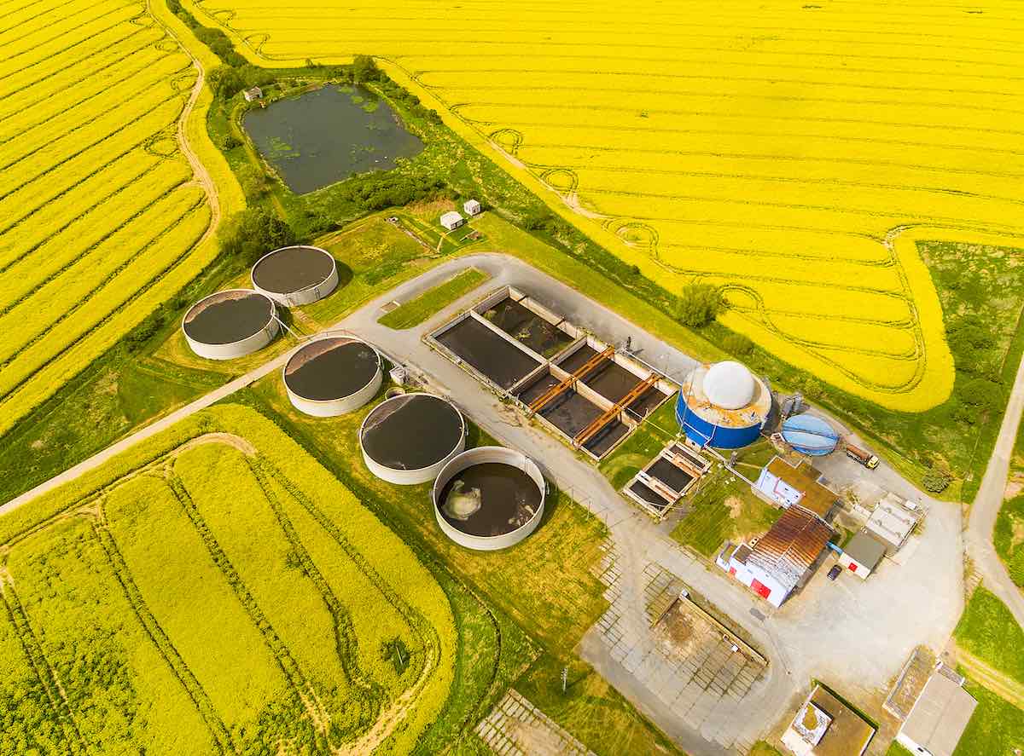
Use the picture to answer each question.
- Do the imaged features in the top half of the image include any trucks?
No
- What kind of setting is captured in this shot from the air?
industrial area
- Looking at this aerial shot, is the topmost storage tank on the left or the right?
left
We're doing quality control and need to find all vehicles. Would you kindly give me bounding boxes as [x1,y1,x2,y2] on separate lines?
[845,445,881,473]
[827,566,843,581]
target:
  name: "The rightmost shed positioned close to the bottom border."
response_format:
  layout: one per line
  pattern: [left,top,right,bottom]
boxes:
[892,659,979,756]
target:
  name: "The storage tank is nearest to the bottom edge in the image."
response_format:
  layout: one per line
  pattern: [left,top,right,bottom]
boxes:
[433,446,549,553]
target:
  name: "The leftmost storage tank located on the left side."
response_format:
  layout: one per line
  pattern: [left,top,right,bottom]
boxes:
[183,289,280,360]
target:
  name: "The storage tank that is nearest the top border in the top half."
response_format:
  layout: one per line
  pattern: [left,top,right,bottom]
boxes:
[252,245,339,308]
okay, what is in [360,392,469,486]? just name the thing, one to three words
storage tank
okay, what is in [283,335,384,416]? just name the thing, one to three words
storage tank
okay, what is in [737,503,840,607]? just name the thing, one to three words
barn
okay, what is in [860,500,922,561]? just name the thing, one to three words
building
